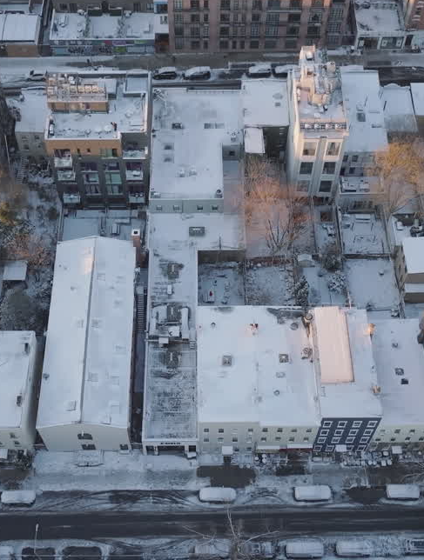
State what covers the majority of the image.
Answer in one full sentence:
The bulk of the photo consists of buildings.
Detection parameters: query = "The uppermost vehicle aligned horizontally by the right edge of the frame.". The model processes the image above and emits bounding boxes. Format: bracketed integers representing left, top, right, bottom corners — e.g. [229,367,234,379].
[381,482,423,501]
